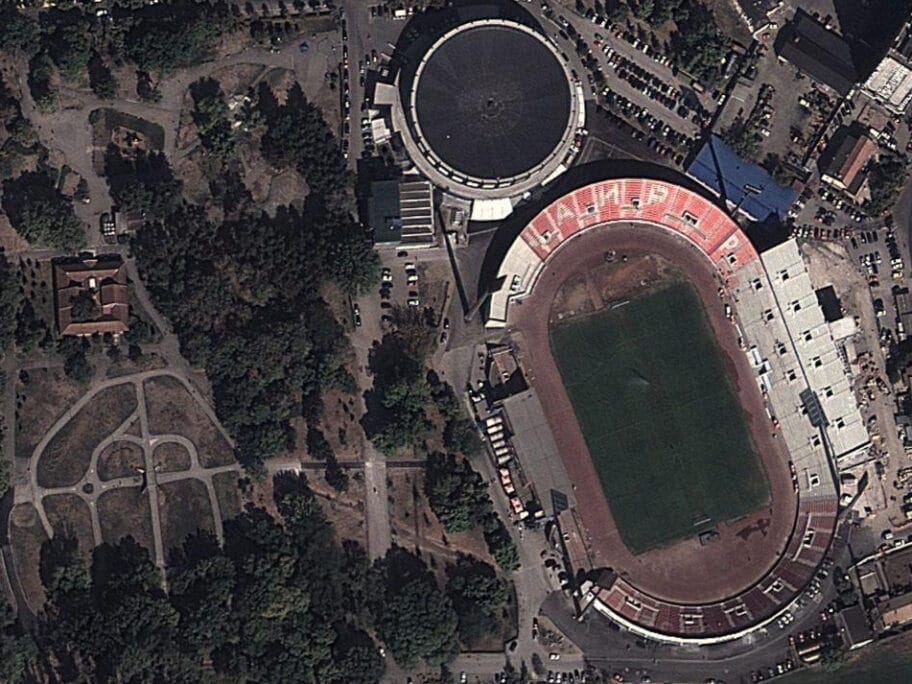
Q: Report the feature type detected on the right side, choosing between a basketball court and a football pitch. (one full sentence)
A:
What appears on the right side is a football pitch.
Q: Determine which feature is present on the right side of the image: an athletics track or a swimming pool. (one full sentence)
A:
It is an athletics track that can be seen on the right side of the image.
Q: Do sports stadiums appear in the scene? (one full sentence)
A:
Yes, a sports stadium appears in the view.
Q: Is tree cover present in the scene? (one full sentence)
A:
Yes, tree cover shows up in the scene.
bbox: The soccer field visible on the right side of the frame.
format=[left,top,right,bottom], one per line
[551,279,771,552]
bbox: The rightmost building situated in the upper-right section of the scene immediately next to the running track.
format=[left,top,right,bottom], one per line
[684,135,800,224]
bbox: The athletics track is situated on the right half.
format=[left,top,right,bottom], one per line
[522,221,797,605]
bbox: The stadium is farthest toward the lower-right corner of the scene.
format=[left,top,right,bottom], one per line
[487,177,872,646]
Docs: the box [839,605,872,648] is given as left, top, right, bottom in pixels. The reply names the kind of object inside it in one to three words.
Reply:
building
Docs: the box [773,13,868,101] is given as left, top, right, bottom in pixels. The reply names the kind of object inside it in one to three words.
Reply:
building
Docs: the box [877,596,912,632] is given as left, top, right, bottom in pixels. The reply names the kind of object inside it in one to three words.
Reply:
house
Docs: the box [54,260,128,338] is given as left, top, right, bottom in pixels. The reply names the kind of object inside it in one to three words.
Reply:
house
